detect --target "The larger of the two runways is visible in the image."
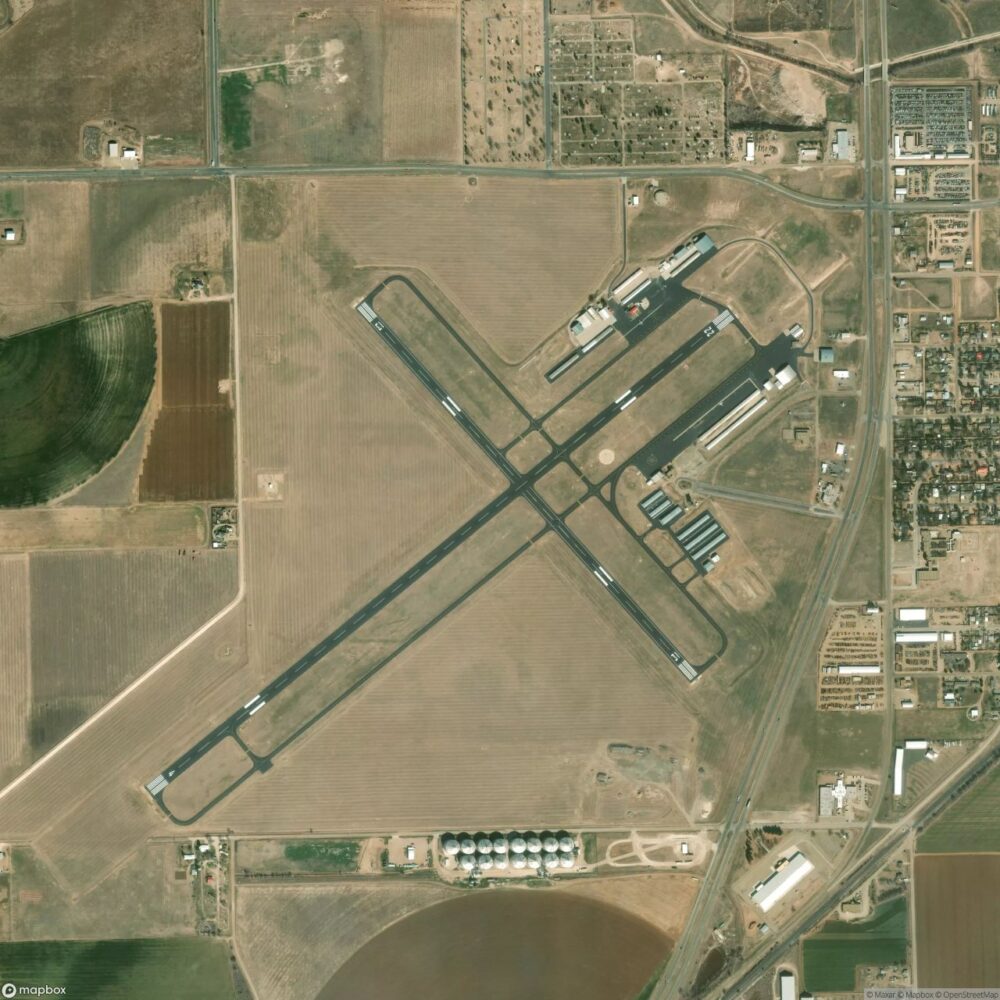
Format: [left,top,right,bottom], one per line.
[146,310,734,796]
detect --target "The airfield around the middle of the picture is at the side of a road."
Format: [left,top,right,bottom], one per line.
[146,243,819,823]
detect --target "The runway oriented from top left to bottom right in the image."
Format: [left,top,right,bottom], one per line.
[357,301,698,681]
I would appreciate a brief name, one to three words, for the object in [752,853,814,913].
building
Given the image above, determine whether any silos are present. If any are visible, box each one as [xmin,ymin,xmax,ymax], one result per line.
[444,840,459,856]
[478,840,492,855]
[512,854,526,871]
[526,839,542,854]
[479,855,493,872]
[544,839,559,854]
[460,840,476,856]
[526,854,542,871]
[461,856,477,872]
[512,839,526,855]
[492,839,508,855]
[544,854,560,870]
[560,838,574,854]
[560,854,574,870]
[493,855,509,871]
